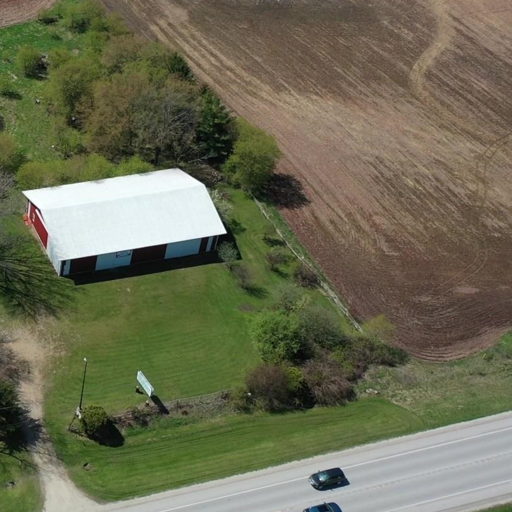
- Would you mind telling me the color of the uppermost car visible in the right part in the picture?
black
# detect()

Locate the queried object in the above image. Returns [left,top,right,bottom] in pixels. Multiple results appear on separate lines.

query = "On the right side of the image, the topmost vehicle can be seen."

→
[310,465,348,489]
